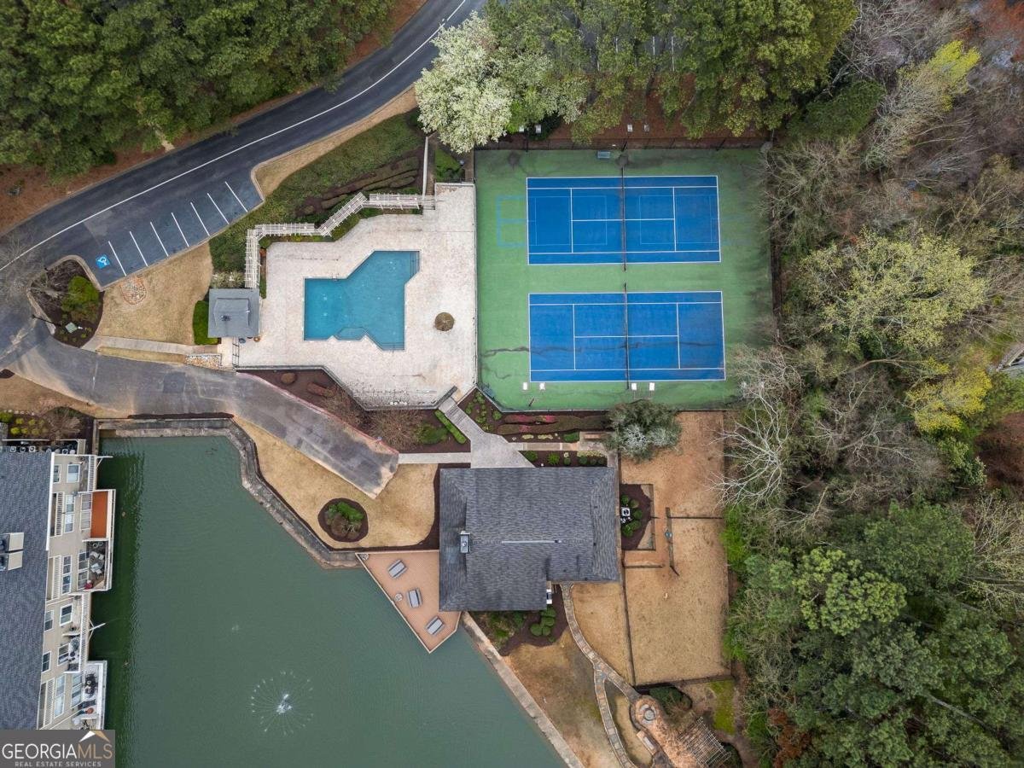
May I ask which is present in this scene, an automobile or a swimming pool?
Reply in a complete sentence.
Visible in the photo is a swimming pool.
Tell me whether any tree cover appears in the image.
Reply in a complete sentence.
Yes, there is tree cover in the image.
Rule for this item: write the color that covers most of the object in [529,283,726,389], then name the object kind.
blue tennis court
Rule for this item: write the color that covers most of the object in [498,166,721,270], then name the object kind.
blue tennis court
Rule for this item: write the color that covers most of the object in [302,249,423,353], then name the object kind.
blue swimming pool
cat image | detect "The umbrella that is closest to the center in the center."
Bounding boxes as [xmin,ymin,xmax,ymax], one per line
[434,311,456,333]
